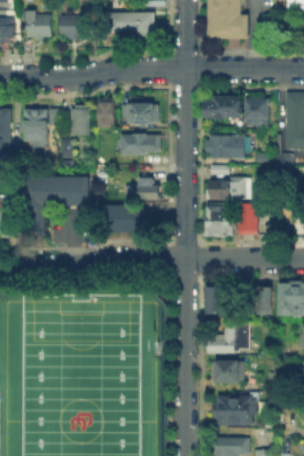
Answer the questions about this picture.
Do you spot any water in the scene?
No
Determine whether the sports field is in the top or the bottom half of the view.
bottom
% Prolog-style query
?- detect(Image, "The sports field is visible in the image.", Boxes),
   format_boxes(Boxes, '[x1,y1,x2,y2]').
[0,293,165,456]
